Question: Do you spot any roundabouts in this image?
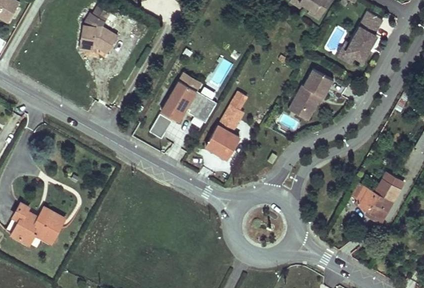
Yes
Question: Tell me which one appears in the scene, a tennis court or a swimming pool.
swimming pool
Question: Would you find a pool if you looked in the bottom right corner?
No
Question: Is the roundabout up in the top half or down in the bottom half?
bottom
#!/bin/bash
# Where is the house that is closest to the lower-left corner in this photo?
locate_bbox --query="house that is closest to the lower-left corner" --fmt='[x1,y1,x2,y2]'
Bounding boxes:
[7,202,66,248]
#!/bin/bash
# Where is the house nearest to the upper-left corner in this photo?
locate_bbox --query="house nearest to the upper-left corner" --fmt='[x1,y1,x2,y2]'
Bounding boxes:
[0,0,22,24]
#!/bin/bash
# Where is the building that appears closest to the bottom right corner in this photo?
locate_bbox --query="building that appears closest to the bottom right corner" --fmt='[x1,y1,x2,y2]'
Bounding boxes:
[353,172,406,224]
